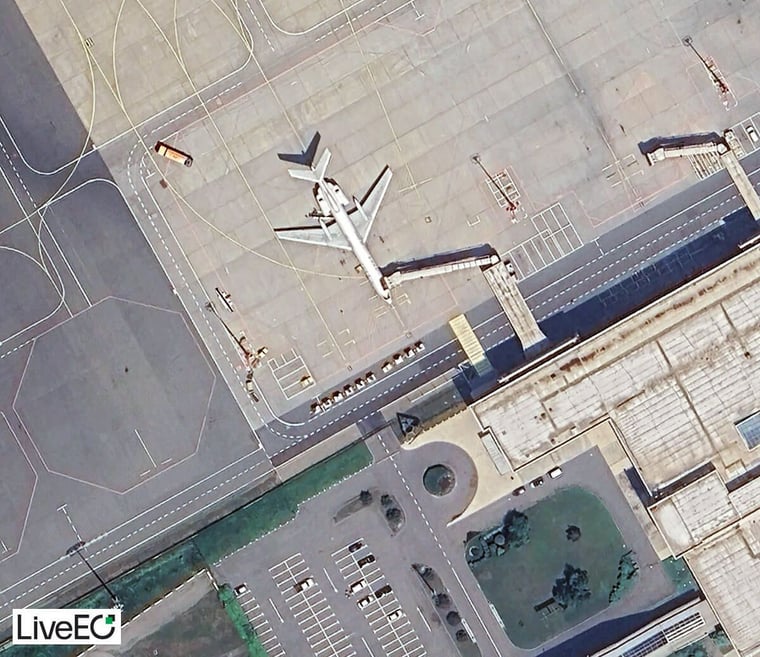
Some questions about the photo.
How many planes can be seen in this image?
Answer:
1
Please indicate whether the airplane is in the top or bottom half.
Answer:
top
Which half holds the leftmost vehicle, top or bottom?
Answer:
top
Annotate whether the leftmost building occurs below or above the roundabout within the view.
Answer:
above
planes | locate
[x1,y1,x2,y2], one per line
[273,148,392,304]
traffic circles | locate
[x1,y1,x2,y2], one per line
[405,445,474,514]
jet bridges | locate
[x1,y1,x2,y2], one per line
[646,141,729,166]
[381,252,502,288]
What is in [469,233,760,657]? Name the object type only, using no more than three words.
building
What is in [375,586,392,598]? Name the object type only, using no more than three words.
vehicle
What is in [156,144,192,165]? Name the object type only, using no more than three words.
vehicle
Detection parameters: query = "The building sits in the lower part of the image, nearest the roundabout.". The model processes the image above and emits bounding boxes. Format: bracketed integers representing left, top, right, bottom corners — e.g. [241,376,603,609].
[398,412,427,445]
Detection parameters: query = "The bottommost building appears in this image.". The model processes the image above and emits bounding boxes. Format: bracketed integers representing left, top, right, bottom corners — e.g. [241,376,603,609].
[578,596,721,657]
